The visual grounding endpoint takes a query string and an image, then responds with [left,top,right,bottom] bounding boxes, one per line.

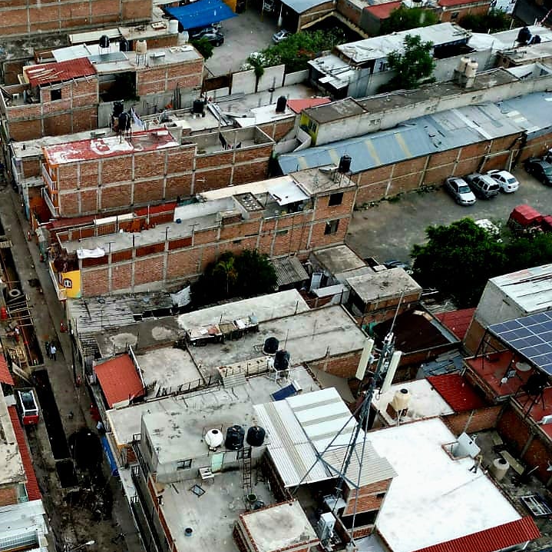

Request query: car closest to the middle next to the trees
[374,254,421,280]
